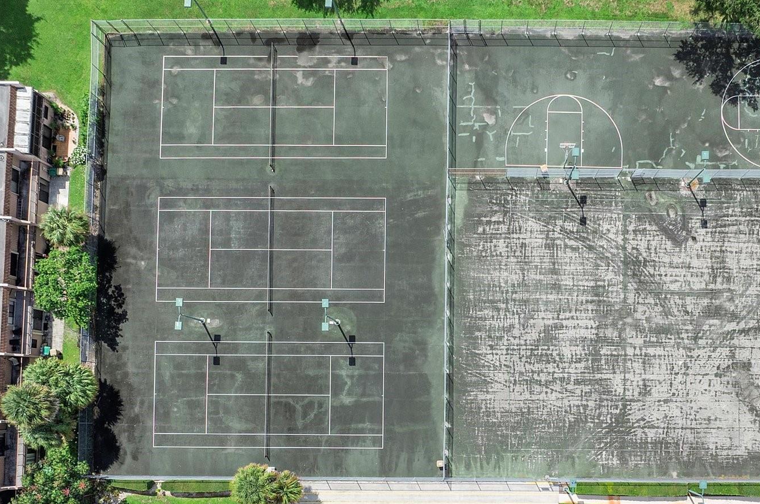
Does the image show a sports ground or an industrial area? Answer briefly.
sports ground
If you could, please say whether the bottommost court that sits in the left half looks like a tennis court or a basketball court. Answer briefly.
tennis court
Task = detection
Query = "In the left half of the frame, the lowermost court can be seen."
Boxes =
[95,322,446,477]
